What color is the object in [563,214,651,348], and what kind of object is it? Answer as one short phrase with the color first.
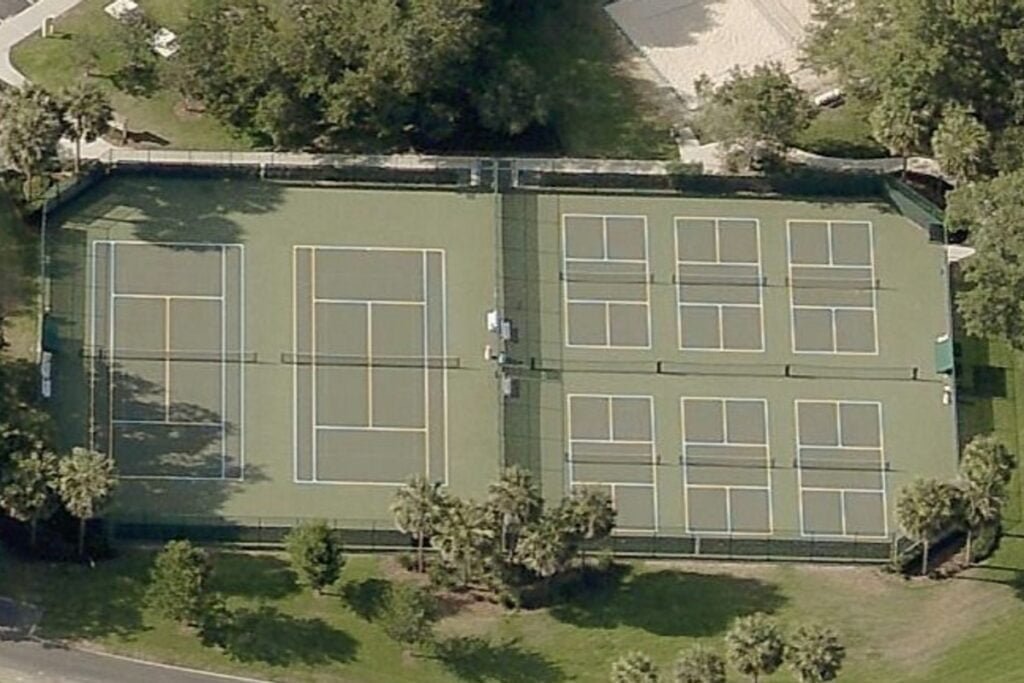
gray sports court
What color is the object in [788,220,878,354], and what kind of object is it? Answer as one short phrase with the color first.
gray sports court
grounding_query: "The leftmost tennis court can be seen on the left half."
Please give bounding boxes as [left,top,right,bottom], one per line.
[90,241,243,480]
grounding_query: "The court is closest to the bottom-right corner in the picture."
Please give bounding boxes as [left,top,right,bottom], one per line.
[795,400,887,537]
